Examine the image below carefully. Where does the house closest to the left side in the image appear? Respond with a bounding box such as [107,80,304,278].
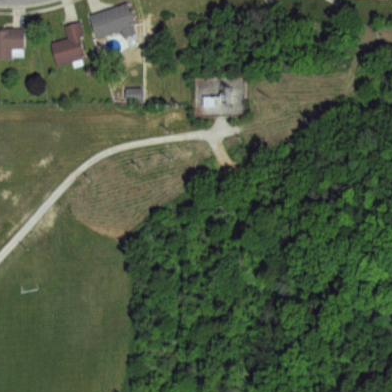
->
[0,28,24,60]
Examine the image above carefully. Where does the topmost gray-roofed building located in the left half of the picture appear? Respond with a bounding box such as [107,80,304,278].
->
[90,2,134,38]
